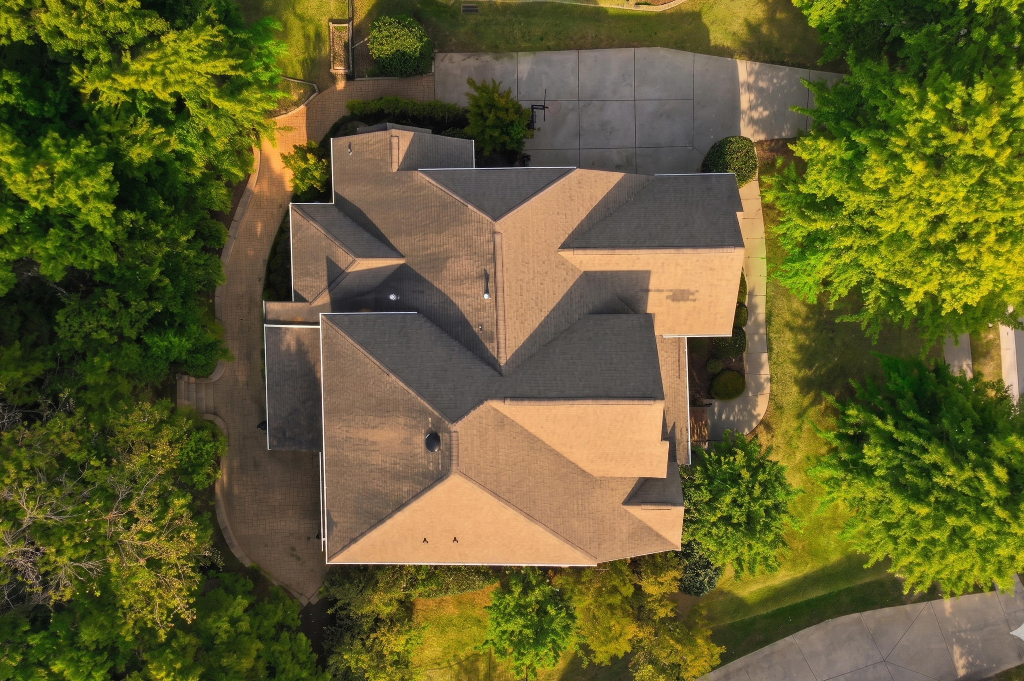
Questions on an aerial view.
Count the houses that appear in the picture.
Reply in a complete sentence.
Altogether the scene contains 1 house.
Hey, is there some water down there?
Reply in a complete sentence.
No, the scene doesn't show any water.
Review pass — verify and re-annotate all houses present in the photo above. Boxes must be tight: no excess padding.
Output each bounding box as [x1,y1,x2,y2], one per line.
[260,124,746,568]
